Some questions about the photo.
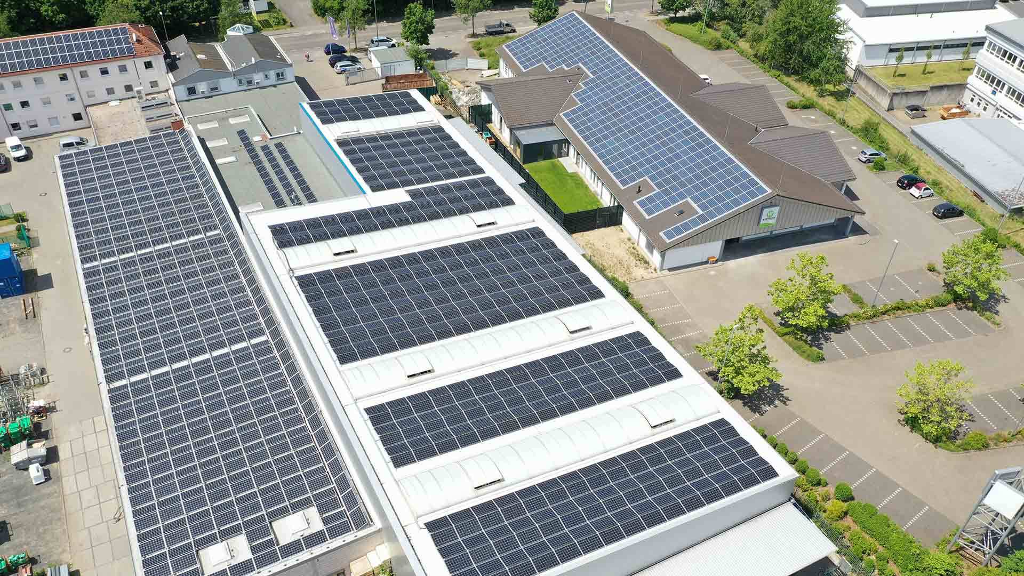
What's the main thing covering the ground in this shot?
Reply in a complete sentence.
For the most part, this view shows buildings.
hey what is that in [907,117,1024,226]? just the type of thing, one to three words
building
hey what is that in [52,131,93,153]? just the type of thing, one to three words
vehicle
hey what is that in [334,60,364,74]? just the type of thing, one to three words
car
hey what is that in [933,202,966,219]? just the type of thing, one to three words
car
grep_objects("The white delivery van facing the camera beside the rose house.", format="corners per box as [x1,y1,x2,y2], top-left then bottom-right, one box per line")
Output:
[3,134,27,160]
